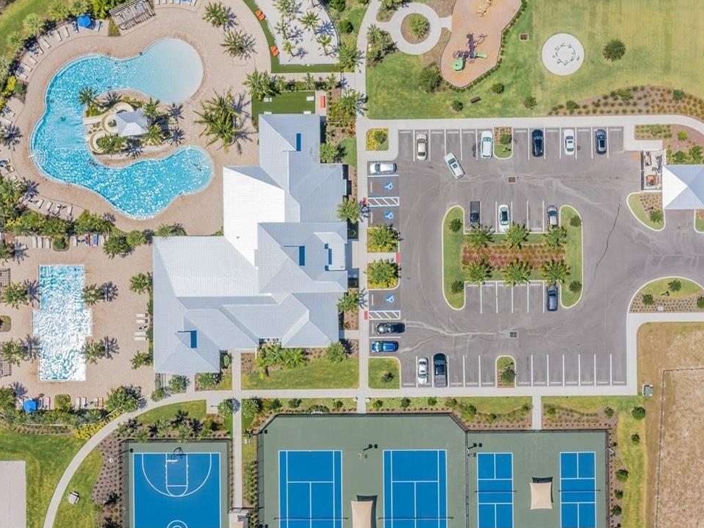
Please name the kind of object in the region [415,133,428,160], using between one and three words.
vehicle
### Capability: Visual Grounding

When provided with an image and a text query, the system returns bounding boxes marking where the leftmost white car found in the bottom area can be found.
[417,357,429,385]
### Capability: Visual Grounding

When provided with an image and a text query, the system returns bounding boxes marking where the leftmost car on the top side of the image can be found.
[369,161,395,174]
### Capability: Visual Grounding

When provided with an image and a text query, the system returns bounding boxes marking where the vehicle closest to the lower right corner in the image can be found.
[546,282,559,309]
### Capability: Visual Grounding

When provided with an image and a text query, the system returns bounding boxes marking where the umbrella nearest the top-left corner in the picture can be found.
[78,14,92,28]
